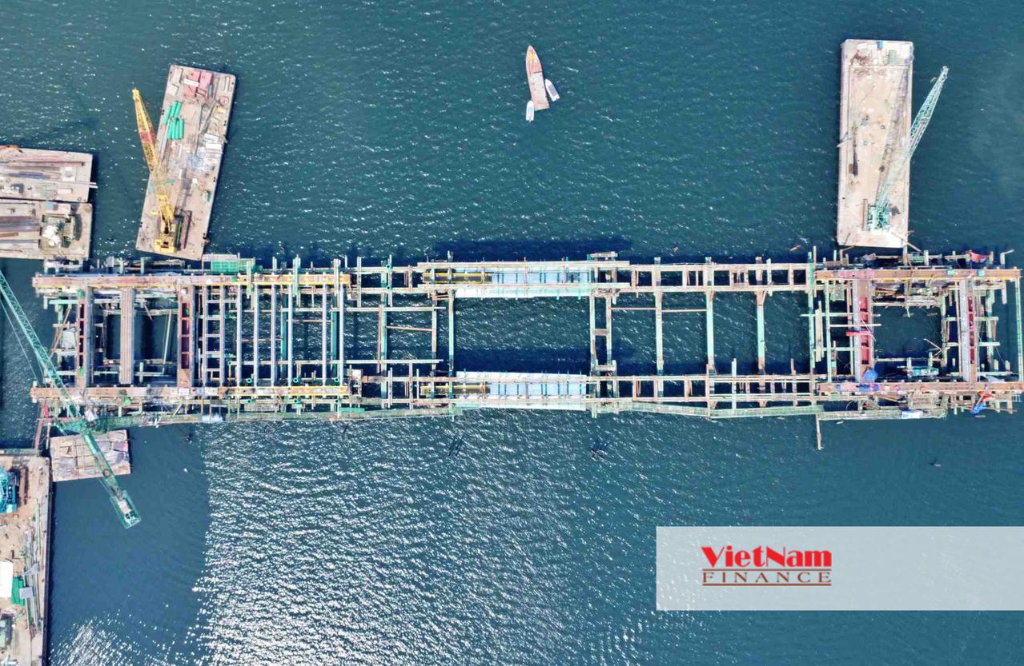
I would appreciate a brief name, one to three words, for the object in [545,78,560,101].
boat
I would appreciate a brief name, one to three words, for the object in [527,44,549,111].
boat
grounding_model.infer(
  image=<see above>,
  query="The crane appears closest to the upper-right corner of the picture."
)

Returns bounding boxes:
[859,62,949,233]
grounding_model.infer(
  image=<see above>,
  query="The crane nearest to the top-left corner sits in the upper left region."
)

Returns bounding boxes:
[132,87,187,256]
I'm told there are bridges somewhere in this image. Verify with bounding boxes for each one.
[30,233,1024,450]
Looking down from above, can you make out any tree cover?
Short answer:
No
